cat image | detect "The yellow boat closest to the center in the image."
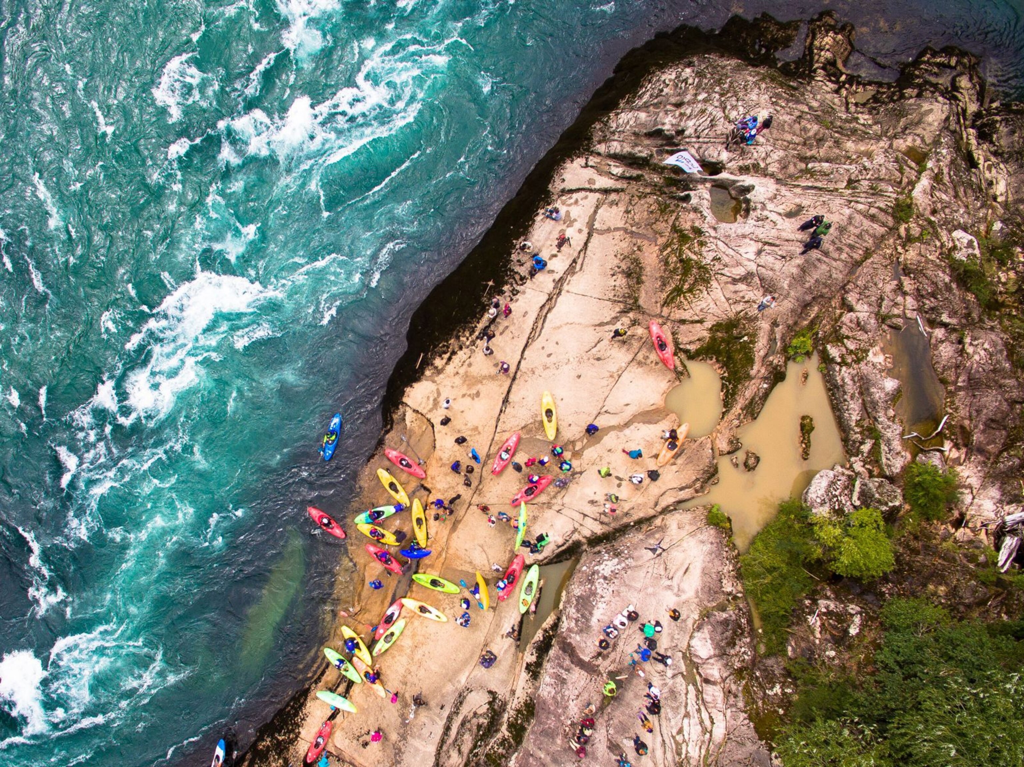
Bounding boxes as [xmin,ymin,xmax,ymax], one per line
[542,391,556,440]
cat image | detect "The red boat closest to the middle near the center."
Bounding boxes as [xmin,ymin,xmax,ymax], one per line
[493,433,519,474]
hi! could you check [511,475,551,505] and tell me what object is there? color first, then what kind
red boat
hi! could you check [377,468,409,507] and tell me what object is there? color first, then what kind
yellow boat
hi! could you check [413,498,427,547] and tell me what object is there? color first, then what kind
yellow boat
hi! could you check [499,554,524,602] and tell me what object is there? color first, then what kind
red boat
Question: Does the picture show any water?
Yes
